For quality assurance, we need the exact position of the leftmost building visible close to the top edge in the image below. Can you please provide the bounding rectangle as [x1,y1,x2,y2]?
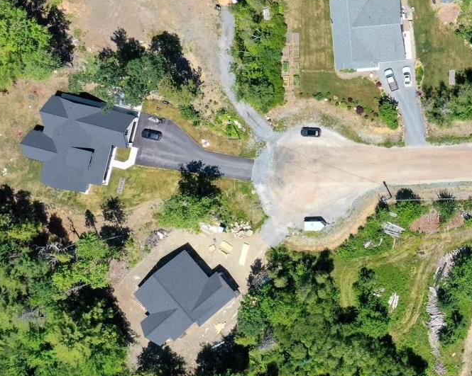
[329,0,404,72]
